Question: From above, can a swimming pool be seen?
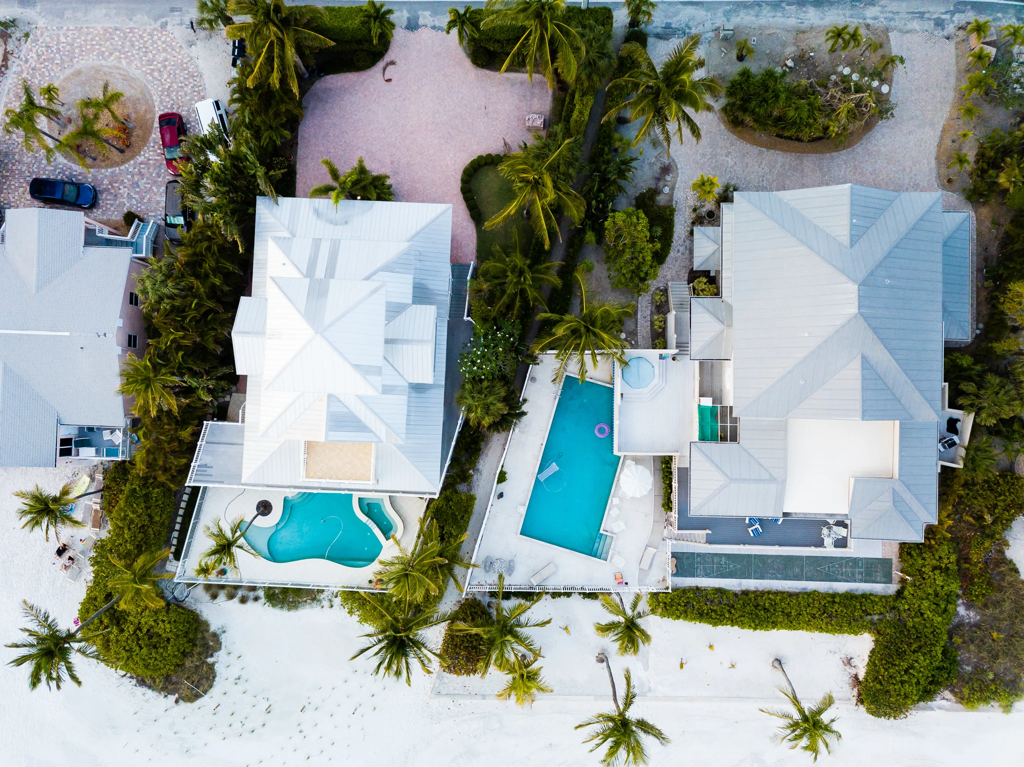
Yes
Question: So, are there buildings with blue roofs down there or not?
No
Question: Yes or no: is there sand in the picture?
Yes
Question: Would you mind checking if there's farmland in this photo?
No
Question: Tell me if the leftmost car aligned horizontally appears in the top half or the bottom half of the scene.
top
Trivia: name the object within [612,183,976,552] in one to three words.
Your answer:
house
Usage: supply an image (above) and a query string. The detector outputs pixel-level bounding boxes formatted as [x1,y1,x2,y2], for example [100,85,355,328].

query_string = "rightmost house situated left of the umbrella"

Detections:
[181,195,475,498]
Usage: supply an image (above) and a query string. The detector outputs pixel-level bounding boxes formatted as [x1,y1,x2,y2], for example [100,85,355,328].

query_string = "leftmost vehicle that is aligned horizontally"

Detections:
[31,178,98,209]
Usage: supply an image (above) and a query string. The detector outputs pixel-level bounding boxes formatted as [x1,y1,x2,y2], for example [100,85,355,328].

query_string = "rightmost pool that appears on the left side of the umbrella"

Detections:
[516,374,624,565]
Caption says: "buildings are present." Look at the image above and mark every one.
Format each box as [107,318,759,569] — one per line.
[181,195,475,498]
[0,208,167,467]
[612,183,976,552]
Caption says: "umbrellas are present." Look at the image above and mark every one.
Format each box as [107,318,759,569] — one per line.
[620,463,650,493]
